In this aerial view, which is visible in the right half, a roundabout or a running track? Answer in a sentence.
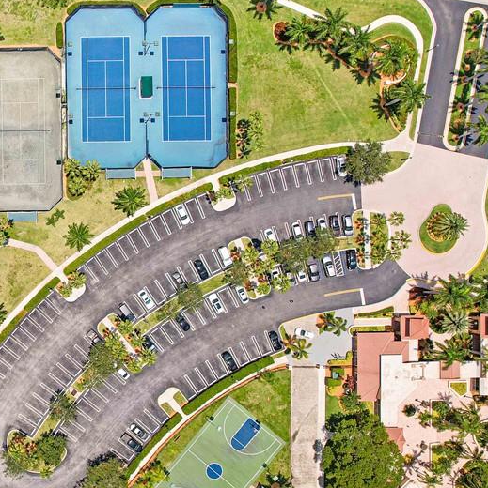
What appears in the right half is a roundabout.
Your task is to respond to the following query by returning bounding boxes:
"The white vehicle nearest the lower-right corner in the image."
[291,326,317,341]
